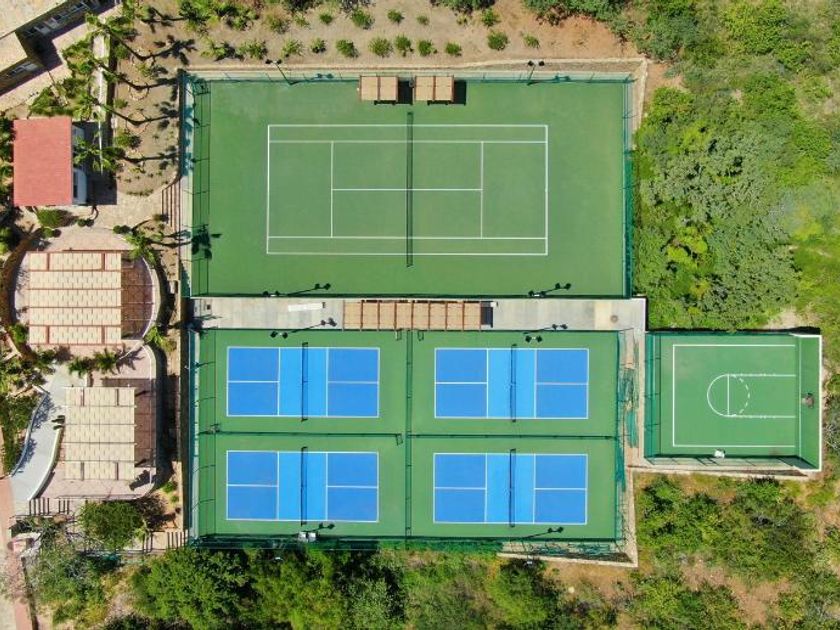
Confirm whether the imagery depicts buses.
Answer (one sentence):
No, there appears to be no bus in this shot.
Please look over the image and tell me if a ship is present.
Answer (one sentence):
No, I find no ship anywhere in the image.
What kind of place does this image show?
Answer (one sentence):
It's a sports ground.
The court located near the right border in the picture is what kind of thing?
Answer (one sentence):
In the photo, the court located near the right border shows up as a basketball court.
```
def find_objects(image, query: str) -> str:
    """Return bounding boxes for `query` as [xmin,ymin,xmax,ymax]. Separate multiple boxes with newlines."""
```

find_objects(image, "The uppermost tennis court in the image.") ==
[194,82,624,296]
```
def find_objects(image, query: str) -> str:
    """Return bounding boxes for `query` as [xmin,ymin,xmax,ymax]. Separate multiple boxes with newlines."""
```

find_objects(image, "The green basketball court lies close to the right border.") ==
[646,334,799,459]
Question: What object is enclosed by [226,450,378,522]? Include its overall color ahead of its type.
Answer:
blue sports court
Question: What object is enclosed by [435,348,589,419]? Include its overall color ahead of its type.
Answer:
blue sports court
